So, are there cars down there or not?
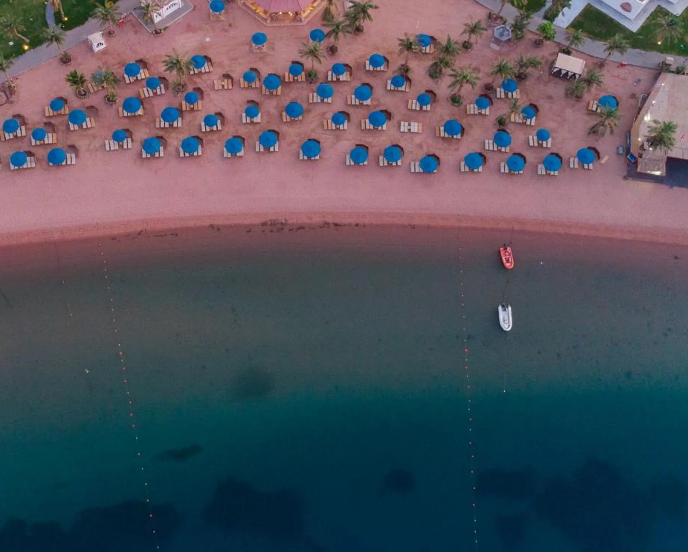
No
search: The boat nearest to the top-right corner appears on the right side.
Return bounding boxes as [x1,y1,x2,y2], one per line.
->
[500,245,514,270]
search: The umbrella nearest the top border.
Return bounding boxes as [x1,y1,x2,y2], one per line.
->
[209,0,225,13]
